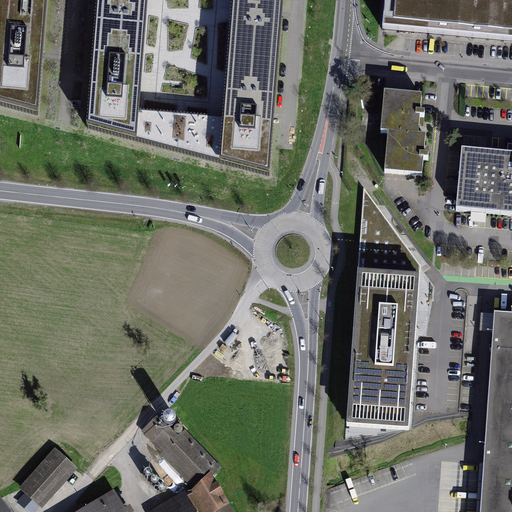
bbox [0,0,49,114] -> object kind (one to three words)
building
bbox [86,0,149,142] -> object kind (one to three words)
building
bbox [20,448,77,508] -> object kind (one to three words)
barn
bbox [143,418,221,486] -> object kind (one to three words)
barn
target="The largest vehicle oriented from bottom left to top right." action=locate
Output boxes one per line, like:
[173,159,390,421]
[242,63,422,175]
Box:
[220,328,240,348]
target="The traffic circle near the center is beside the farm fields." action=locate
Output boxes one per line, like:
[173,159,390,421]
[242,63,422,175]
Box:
[254,213,332,290]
